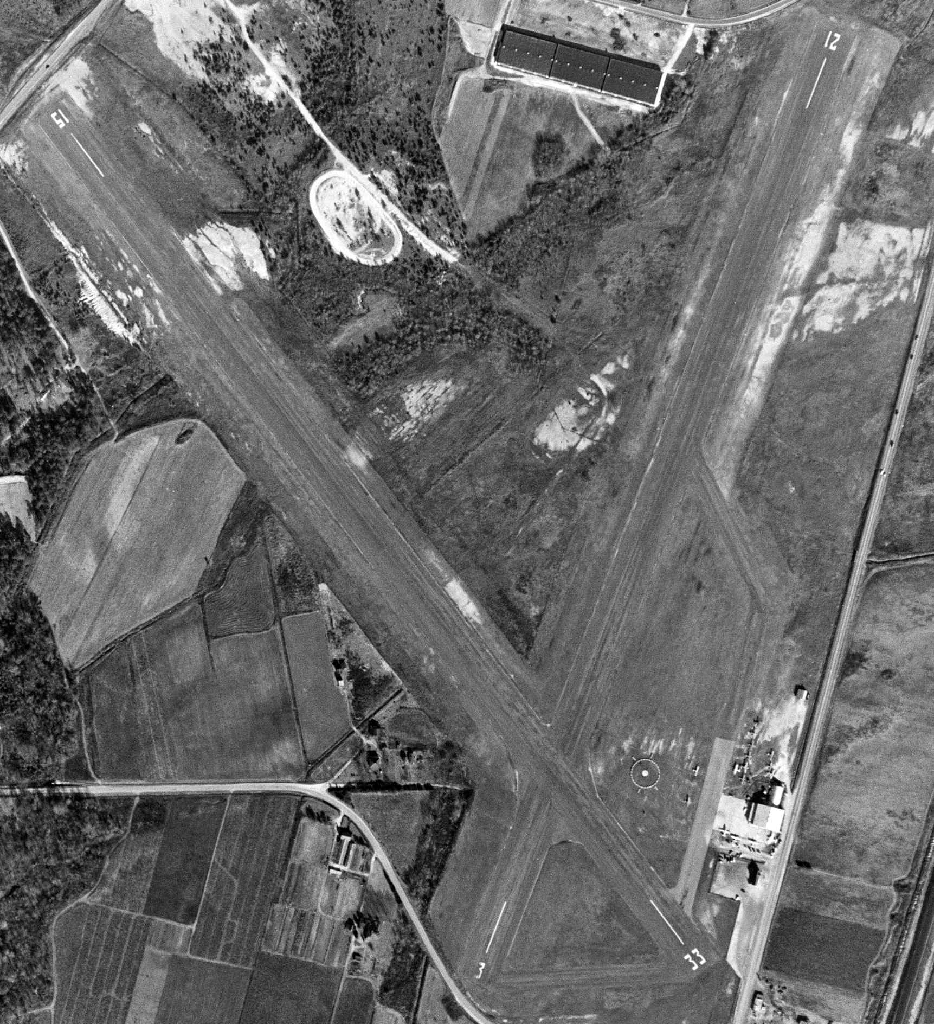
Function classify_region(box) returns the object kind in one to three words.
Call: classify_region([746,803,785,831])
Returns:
hangar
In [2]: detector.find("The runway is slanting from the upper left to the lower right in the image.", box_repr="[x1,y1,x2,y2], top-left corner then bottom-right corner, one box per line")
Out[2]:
[43,103,724,983]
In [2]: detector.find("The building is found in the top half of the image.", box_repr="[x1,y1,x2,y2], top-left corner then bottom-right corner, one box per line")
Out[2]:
[496,30,663,110]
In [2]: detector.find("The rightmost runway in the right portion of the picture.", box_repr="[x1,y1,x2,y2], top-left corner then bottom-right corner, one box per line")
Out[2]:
[455,26,860,980]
